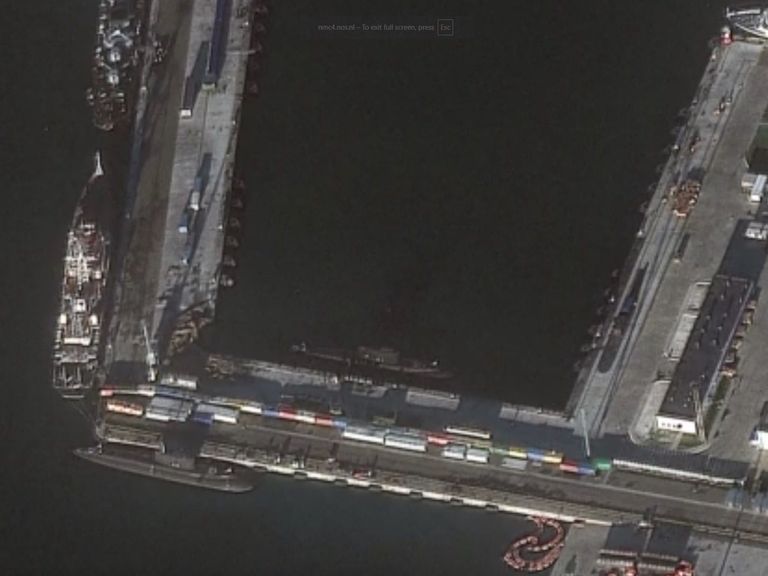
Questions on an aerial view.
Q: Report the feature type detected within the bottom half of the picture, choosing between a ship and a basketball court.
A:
ship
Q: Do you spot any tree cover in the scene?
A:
No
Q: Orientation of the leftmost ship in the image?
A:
from top to bottom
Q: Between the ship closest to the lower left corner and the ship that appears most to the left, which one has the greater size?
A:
the ship that appears most to the left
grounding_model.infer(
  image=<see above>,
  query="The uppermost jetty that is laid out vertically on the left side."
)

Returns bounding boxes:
[105,0,252,385]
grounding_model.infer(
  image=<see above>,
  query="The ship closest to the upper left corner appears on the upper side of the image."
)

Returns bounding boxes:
[92,0,136,134]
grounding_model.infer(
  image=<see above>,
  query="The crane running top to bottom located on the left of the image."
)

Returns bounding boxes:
[138,320,160,386]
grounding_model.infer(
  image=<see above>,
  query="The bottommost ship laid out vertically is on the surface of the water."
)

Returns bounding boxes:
[53,152,113,406]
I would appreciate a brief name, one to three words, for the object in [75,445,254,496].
ship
